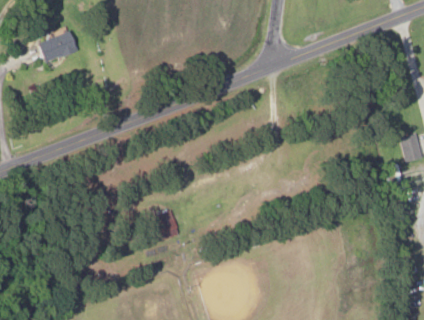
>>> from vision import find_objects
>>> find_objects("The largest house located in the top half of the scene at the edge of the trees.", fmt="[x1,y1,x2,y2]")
[36,26,76,62]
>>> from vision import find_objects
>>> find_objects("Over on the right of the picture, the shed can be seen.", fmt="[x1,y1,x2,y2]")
[400,134,422,160]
